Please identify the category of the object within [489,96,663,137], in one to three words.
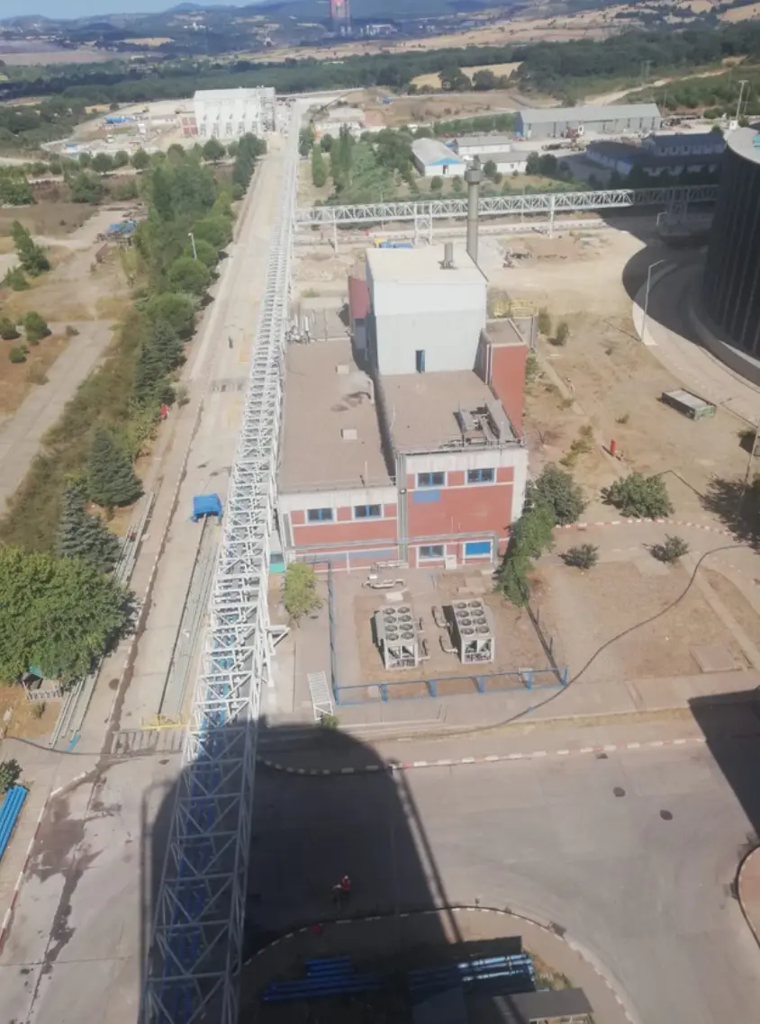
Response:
building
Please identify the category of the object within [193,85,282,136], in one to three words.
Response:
house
